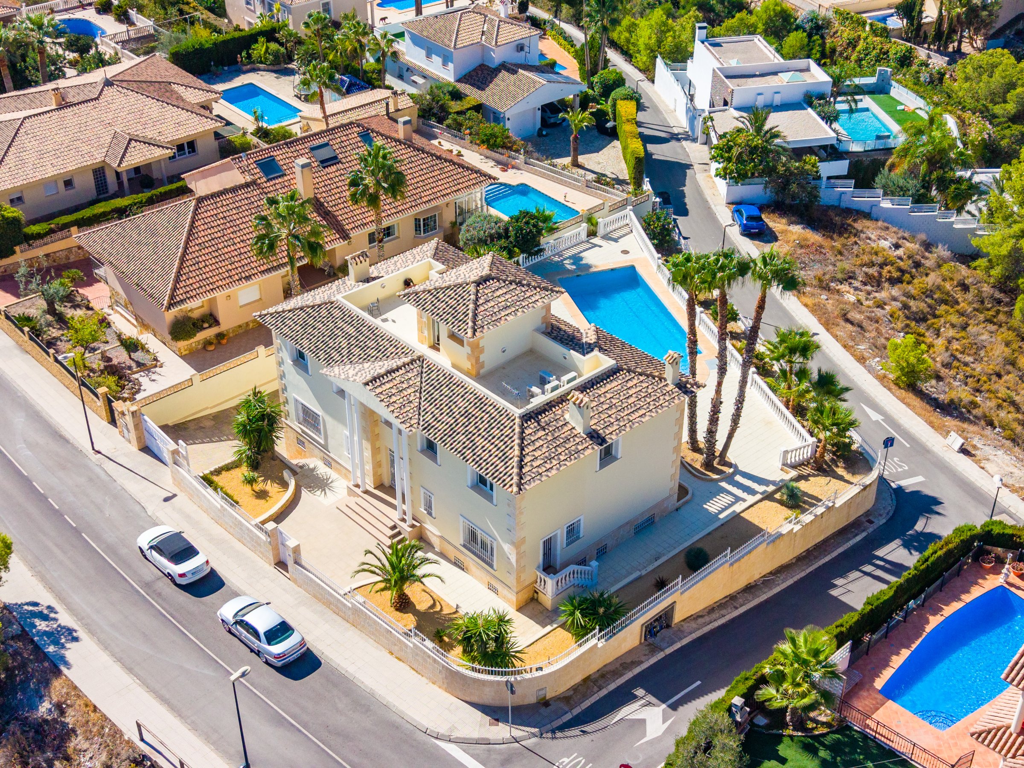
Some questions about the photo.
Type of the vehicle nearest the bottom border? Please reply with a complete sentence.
The vehicle nearest the bottom border can be classified as an automobile.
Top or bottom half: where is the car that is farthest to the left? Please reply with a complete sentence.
The car that is farthest to the left is in the bottom half of the image.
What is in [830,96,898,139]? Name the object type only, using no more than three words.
swimming pool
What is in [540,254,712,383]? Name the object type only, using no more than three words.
swimming pool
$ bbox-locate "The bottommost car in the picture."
[215,592,303,665]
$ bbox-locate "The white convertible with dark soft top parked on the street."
[133,522,210,585]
